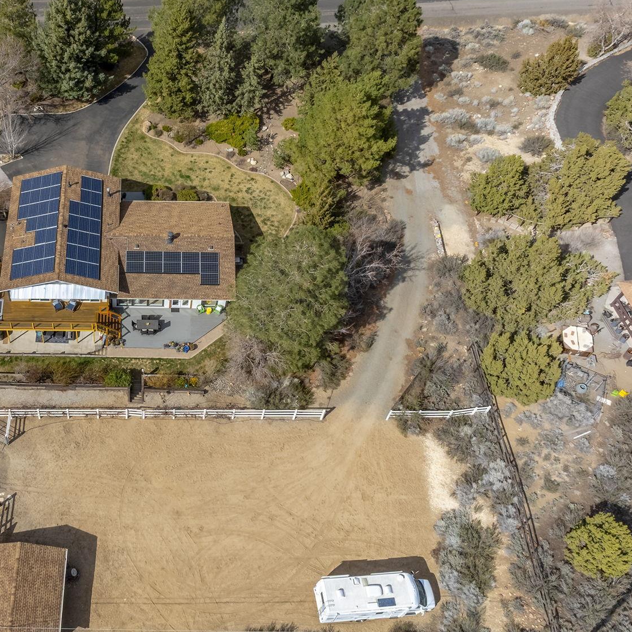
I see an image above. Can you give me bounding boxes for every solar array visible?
[66,175,104,283]
[6,171,58,283]
[127,253,222,287]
